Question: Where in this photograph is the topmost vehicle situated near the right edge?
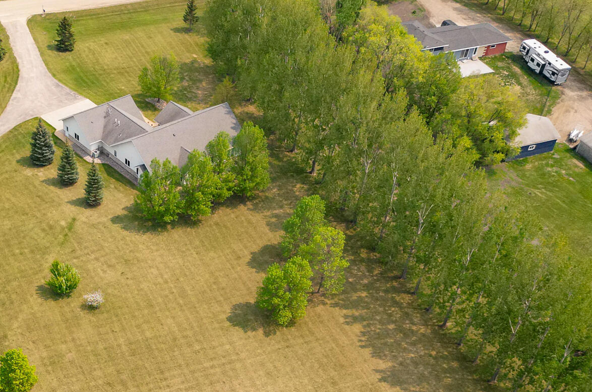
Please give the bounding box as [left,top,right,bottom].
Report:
[518,41,571,89]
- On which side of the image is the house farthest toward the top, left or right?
right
